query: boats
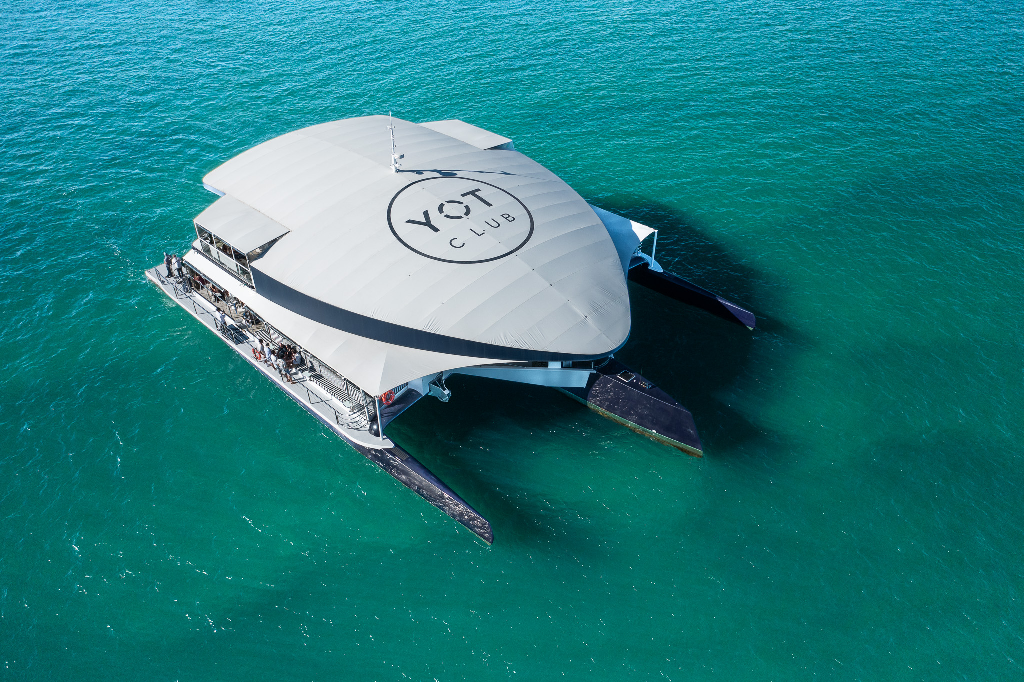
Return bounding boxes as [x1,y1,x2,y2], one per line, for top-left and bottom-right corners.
[147,111,757,546]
